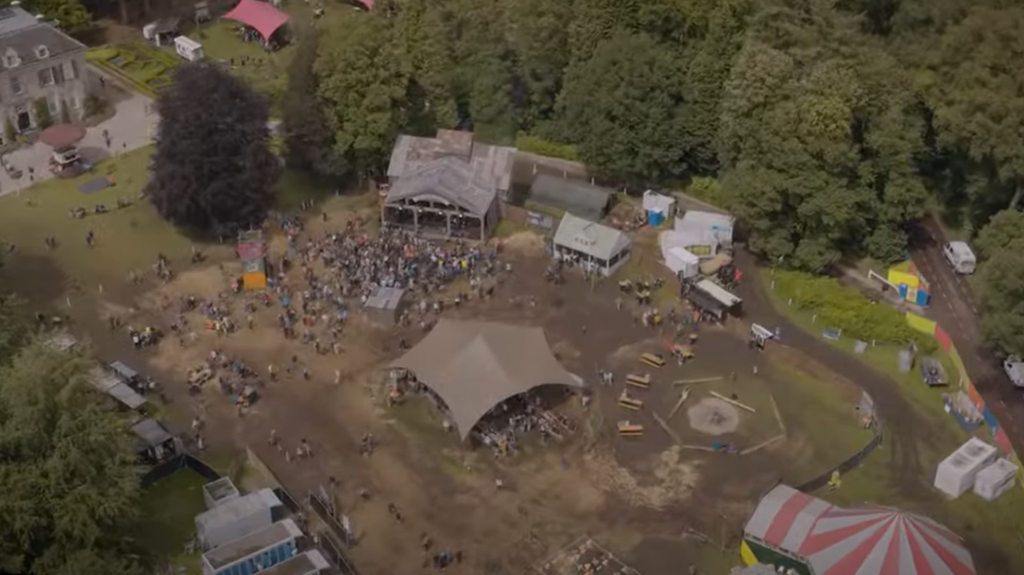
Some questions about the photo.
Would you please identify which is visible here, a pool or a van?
van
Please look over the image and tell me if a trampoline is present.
No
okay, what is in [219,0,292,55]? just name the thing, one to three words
tent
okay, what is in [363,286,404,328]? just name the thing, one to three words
shed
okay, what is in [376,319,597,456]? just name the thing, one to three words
tent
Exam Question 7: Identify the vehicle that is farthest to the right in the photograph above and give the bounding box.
[1002,361,1024,386]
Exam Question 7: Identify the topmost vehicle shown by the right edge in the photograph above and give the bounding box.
[942,244,976,274]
